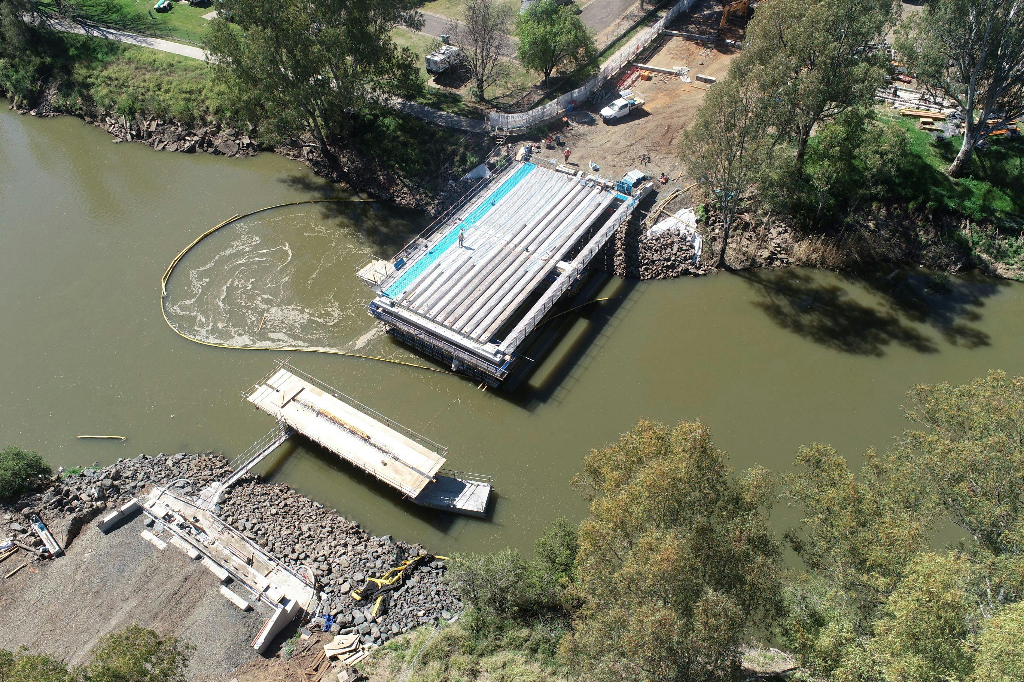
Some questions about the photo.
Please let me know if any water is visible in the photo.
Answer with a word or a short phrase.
Yes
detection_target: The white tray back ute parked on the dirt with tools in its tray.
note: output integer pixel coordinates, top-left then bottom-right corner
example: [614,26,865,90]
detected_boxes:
[601,84,656,121]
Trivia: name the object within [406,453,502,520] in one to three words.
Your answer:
pier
